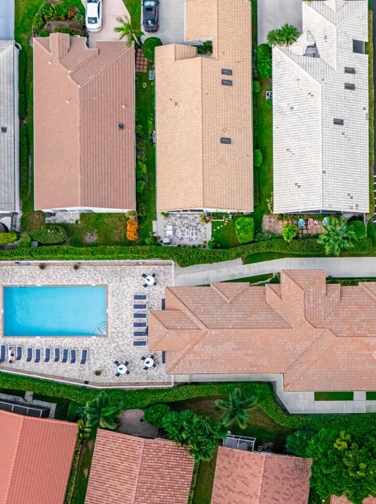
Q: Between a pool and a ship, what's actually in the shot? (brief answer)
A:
pool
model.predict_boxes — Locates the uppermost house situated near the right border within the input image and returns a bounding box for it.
[272,0,369,215]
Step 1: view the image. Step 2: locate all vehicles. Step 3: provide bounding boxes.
[84,0,103,33]
[142,0,160,33]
